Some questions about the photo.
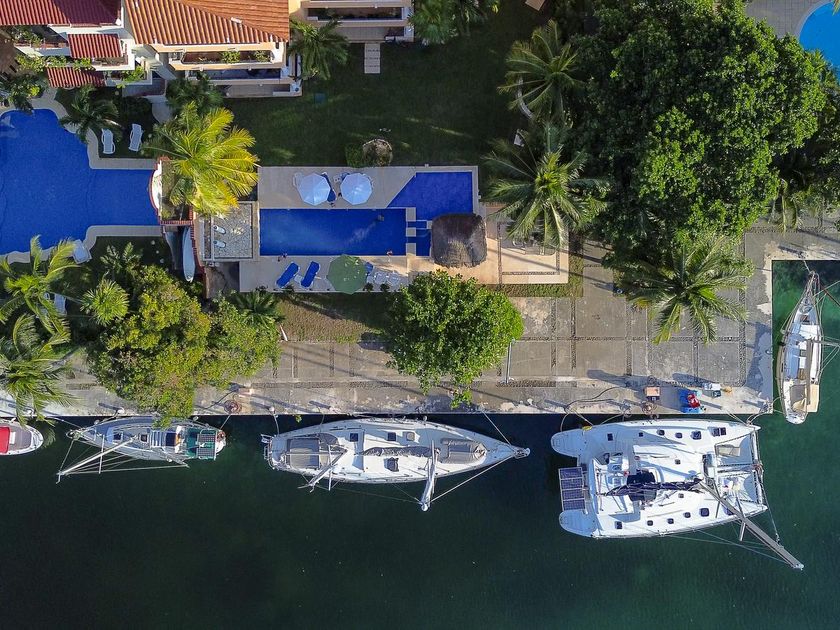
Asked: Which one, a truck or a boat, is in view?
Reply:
boat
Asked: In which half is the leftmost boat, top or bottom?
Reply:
bottom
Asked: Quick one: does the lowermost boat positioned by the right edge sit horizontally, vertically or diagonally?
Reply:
horizontally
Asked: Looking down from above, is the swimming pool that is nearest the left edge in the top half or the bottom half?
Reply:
top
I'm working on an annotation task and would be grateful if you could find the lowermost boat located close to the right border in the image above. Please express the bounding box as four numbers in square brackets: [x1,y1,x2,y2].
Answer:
[550,415,812,573]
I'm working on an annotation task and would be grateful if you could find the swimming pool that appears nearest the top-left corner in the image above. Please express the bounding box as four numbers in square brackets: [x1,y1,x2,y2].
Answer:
[0,99,159,263]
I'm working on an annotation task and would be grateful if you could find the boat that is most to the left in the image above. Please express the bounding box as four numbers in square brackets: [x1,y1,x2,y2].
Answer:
[0,416,44,455]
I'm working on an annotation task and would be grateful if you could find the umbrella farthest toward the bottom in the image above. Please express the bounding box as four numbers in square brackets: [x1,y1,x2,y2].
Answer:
[327,254,368,294]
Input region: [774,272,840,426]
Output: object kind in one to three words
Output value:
boat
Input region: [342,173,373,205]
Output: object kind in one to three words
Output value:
umbrella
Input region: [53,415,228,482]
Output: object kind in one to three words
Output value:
boat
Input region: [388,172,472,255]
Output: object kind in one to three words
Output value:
swimming pool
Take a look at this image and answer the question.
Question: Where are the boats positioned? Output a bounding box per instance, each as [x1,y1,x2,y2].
[550,415,812,573]
[53,415,228,482]
[774,272,840,426]
[262,415,531,513]
[0,416,44,455]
